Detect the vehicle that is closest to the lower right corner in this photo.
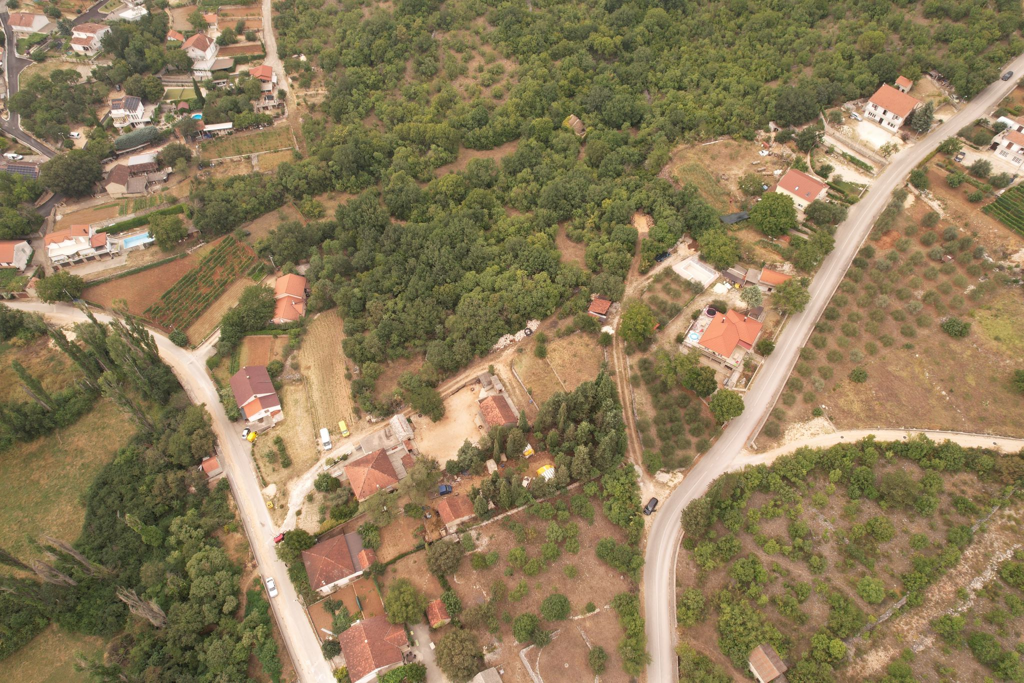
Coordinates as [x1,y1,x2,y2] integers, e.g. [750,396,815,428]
[642,496,660,517]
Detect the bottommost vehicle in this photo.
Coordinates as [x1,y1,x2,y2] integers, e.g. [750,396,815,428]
[264,576,278,599]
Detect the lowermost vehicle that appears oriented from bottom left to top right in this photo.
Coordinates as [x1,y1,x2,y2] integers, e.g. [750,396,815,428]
[270,529,288,547]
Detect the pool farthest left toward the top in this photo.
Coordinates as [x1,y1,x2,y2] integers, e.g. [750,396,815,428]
[122,231,154,249]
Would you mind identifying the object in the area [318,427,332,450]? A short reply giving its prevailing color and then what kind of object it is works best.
white vehicle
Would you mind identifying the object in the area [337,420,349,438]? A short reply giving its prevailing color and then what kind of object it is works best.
yellow vehicle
